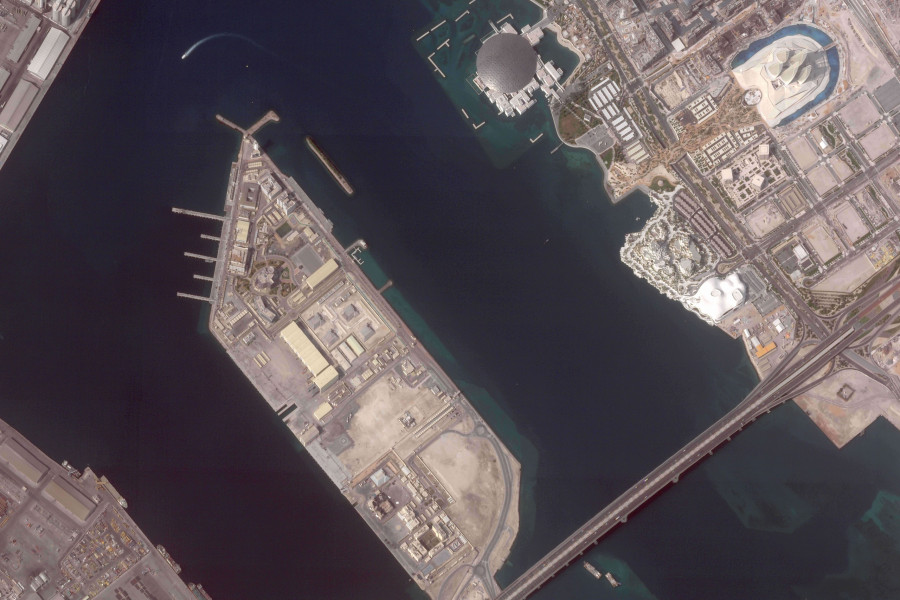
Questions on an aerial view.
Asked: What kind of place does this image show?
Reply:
port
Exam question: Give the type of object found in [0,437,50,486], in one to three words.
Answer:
building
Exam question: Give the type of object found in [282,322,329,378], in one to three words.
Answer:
building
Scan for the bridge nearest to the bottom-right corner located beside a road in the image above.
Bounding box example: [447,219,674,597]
[492,300,886,600]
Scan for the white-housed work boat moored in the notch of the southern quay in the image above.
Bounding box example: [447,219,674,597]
[62,460,82,478]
